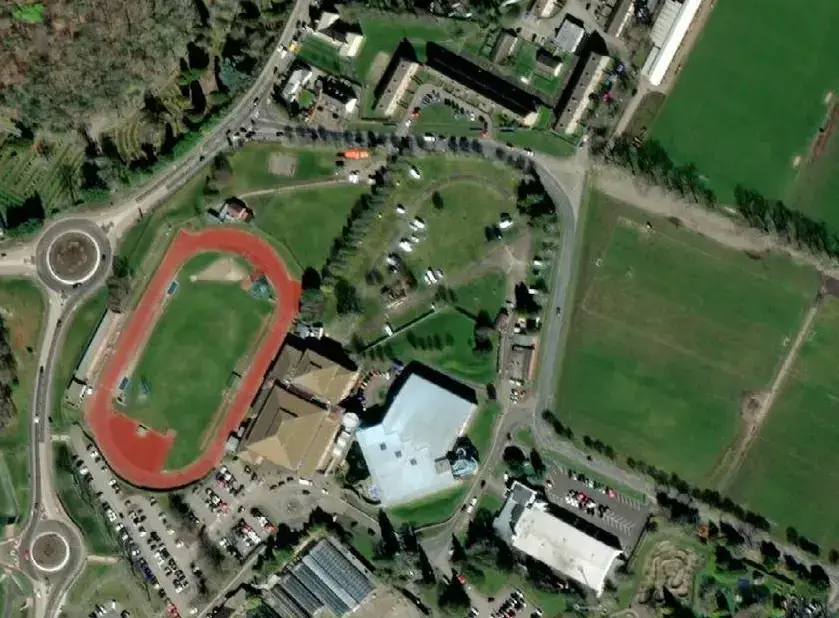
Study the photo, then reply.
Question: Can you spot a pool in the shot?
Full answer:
No, there is no pool in the image.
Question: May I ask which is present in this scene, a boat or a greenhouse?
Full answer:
Visible in the photo is a greenhouse.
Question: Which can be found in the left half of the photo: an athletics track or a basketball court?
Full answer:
The one visible in the left half of the photo is an athletics track.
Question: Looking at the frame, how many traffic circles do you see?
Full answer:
The count of traffic circles comes to 2.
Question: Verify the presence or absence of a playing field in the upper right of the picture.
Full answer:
Yes, the scene does show a playing field in the upper right of the picture.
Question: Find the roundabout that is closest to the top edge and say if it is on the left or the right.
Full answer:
You can find the roundabout that is closest to the top edge on the left side of the picture.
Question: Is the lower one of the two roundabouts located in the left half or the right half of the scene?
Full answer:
The lower one of the two roundabouts sits on the left side.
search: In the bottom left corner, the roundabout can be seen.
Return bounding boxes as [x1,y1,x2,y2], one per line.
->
[15,516,85,586]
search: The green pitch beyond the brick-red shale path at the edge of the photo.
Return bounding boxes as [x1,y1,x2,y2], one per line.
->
[792,120,839,252]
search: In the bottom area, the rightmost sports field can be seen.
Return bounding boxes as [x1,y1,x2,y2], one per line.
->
[738,299,839,552]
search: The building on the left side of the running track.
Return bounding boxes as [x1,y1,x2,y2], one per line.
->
[67,379,87,404]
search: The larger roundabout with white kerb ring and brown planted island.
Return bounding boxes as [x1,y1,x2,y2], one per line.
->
[33,216,114,297]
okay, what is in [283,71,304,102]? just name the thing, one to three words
house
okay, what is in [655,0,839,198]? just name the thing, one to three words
sports field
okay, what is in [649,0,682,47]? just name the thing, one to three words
shed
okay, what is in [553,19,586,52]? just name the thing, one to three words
building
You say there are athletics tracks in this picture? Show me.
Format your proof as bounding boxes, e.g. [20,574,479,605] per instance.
[86,229,301,489]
